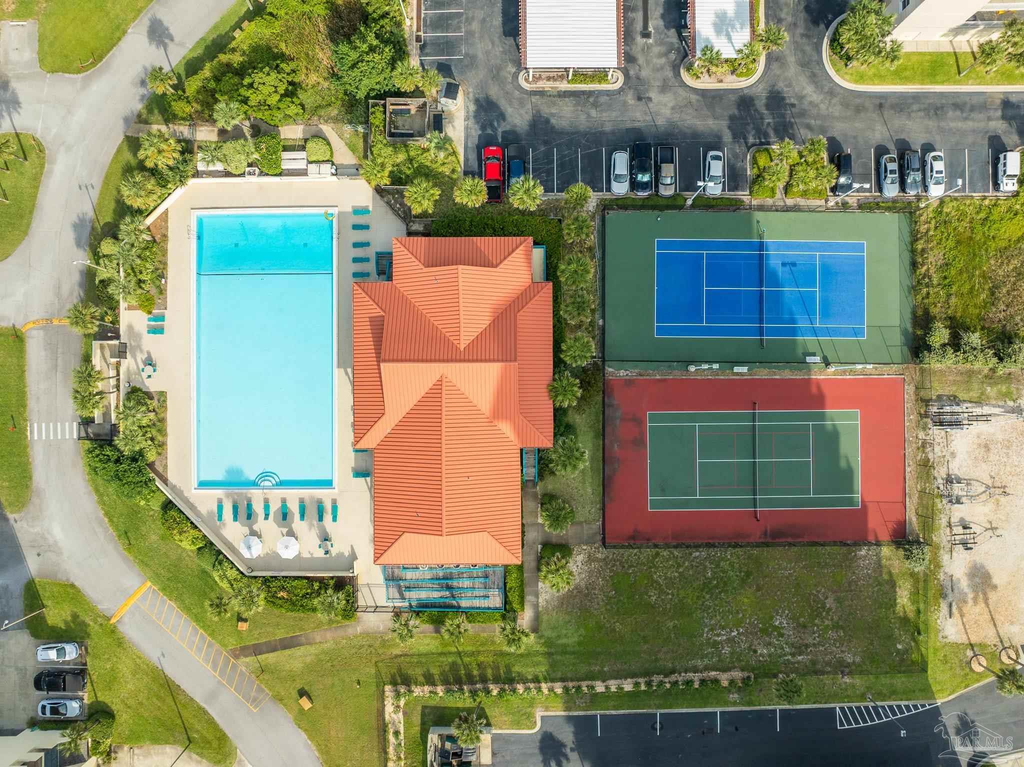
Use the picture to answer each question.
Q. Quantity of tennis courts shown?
2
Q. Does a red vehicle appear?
Yes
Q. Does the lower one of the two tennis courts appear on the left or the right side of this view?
right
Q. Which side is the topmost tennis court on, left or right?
right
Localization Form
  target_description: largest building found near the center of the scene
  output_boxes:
[353,237,553,565]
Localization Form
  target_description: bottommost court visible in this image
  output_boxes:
[607,378,905,544]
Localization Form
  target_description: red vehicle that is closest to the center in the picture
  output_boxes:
[482,147,504,202]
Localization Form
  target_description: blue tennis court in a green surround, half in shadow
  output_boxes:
[607,210,914,371]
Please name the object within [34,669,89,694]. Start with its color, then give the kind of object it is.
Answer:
black vehicle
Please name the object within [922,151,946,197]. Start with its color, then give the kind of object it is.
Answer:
white car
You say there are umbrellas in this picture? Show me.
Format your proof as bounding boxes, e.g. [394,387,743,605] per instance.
[279,535,301,557]
[241,535,263,558]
